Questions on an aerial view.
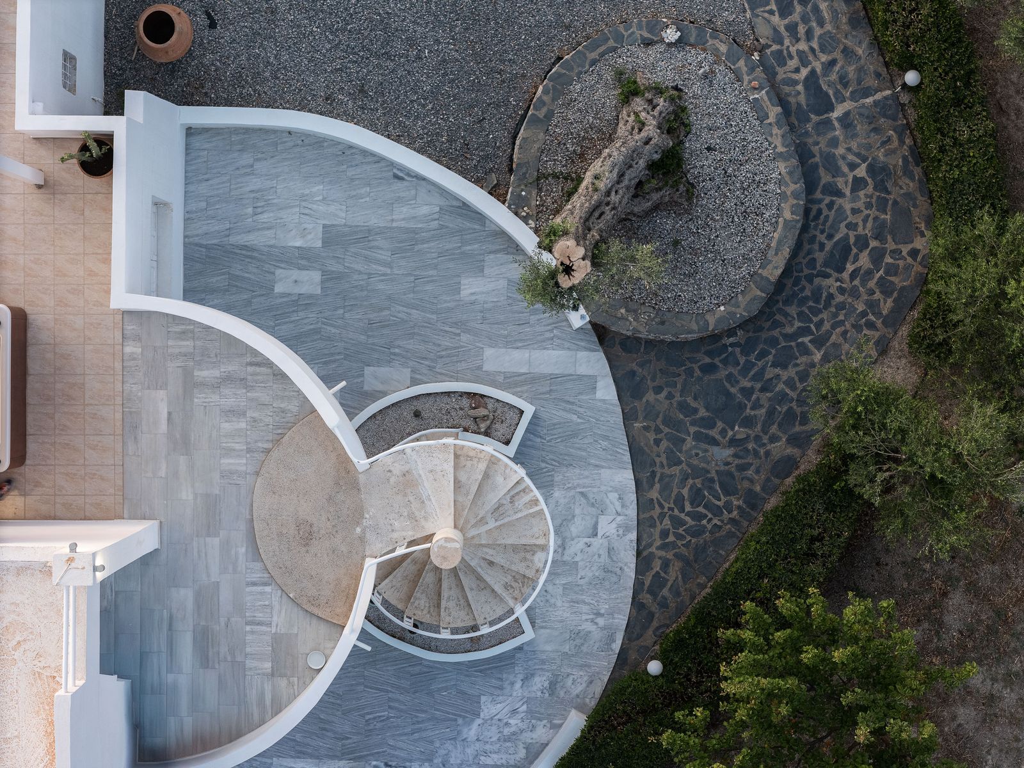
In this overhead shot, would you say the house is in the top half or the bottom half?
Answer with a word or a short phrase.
bottom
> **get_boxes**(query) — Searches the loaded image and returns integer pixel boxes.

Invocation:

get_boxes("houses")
[0,521,158,768]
